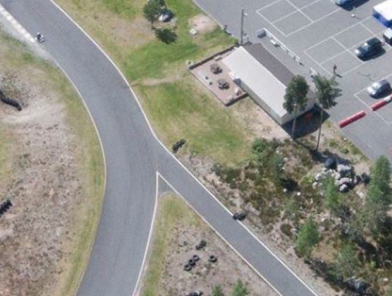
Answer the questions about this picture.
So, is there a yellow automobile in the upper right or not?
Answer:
No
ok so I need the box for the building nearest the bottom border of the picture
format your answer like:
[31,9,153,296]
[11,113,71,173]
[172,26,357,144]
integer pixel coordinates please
[222,45,314,128]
